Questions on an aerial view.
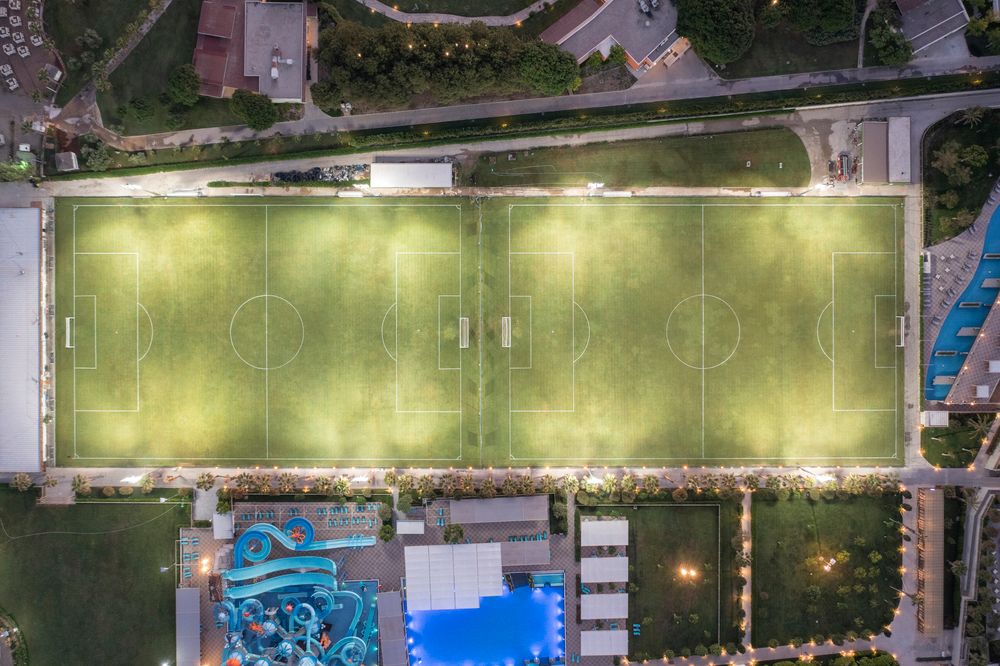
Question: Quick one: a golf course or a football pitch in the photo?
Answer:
football pitch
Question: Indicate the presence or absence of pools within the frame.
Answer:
Yes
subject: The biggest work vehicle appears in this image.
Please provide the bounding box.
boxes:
[838,156,852,182]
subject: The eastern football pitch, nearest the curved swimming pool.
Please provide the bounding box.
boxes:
[510,204,899,460]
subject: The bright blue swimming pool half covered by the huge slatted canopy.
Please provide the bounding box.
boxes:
[401,568,566,666]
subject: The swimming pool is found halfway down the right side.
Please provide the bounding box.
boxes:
[926,203,1000,403]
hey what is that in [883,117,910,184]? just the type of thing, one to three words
building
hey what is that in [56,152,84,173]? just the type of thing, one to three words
shed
